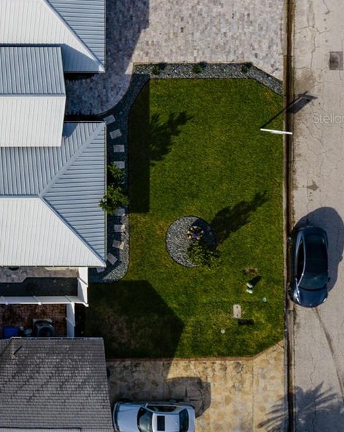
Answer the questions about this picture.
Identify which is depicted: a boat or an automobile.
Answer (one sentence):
The one in the frame is an automobile.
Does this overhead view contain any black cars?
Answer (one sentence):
Yes, this view includes a black car.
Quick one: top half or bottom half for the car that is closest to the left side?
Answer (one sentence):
The bottom half of the photo is where the car that is closest to the left side is.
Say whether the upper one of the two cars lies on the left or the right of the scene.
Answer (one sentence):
It is on the right.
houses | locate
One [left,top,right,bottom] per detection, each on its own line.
[0,332,113,432]
[0,0,108,269]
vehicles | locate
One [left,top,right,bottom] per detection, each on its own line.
[293,225,337,307]
[111,397,195,432]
